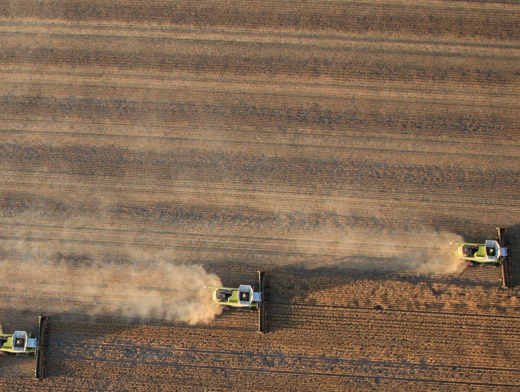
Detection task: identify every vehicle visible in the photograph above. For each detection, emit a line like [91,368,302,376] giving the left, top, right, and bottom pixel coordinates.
[0,316,51,379]
[447,226,515,288]
[203,270,270,333]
